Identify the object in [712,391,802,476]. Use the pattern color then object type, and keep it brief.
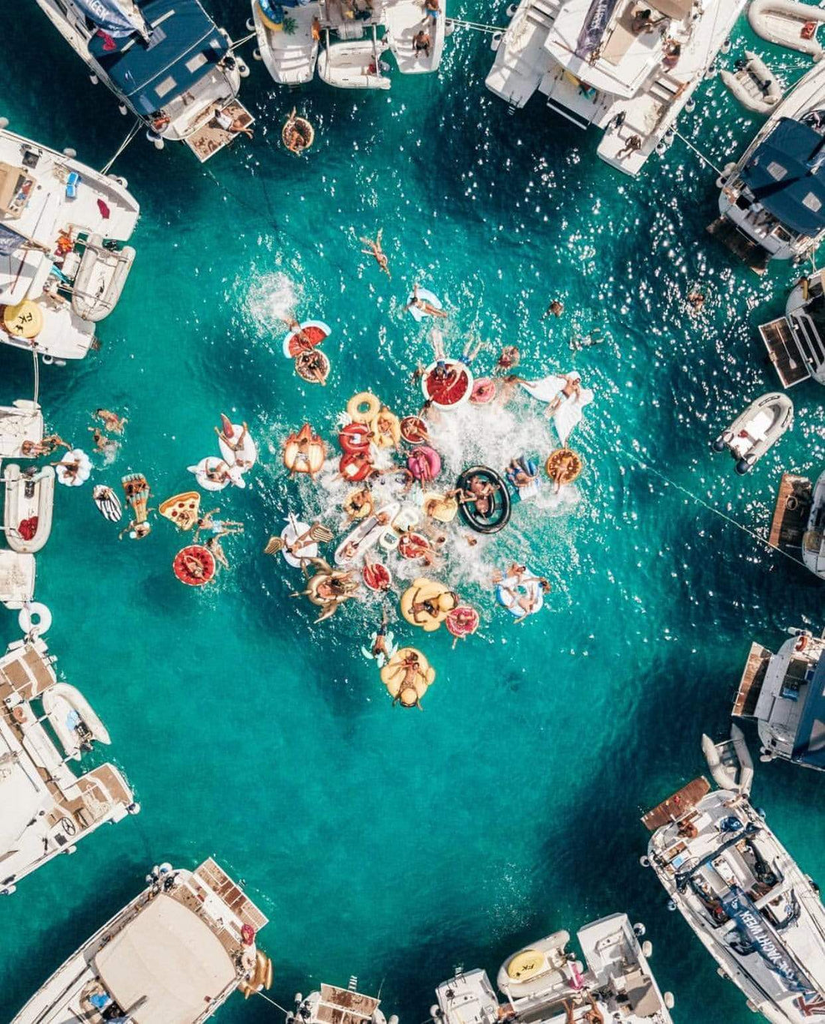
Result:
white boat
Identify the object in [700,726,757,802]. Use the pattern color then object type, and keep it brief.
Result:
gray boat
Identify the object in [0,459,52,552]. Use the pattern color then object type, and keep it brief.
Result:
white boat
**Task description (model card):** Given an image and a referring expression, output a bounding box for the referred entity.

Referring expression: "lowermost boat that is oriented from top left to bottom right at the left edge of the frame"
[34,685,110,769]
